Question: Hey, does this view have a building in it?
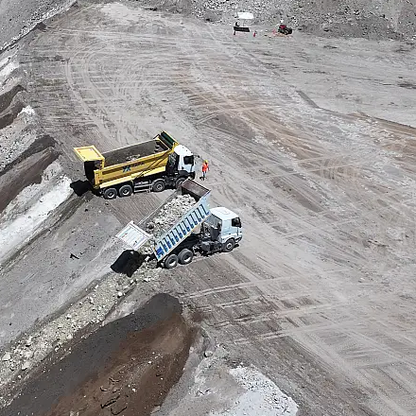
No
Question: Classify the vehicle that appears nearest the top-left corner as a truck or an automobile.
truck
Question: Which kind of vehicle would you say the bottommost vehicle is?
truck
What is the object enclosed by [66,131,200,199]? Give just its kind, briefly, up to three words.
truck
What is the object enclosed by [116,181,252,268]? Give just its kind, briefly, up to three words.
truck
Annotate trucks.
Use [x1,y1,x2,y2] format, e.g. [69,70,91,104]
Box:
[116,181,252,268]
[66,131,200,199]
